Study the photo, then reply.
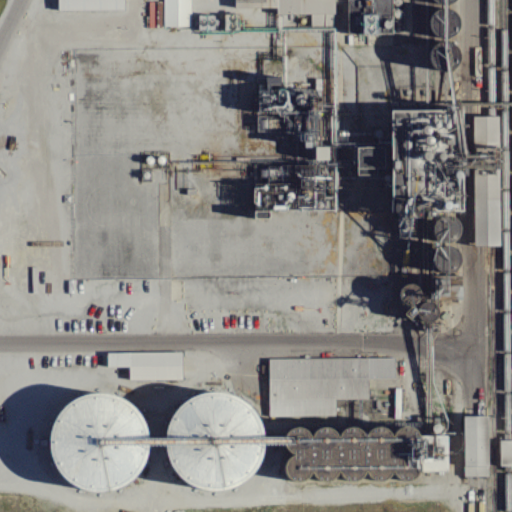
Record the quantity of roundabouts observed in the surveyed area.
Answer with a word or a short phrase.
none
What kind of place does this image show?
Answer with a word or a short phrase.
industrial area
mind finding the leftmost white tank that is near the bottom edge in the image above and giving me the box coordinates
[50,389,150,496]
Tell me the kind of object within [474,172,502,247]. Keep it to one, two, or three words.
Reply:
shed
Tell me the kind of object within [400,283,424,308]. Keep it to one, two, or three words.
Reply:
silo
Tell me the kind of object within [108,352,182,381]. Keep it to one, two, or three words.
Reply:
building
